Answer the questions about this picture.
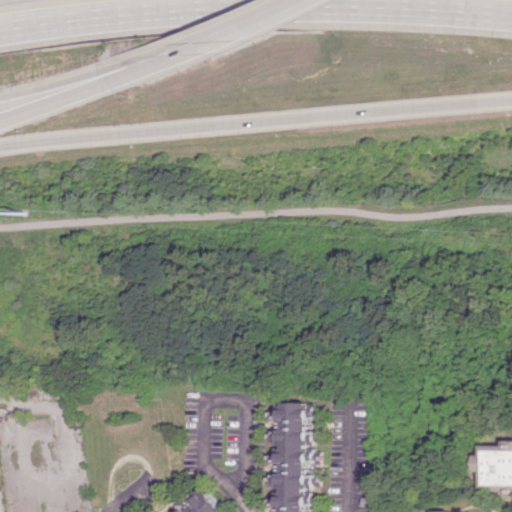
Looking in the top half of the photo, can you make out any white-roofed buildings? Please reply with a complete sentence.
No, I see no white-roofed building in the top half of the photo.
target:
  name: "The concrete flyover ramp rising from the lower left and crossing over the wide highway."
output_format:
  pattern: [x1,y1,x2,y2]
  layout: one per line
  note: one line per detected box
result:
[0,0,330,135]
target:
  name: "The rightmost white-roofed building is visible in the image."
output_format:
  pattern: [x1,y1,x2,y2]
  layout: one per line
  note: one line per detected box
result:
[468,440,512,496]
